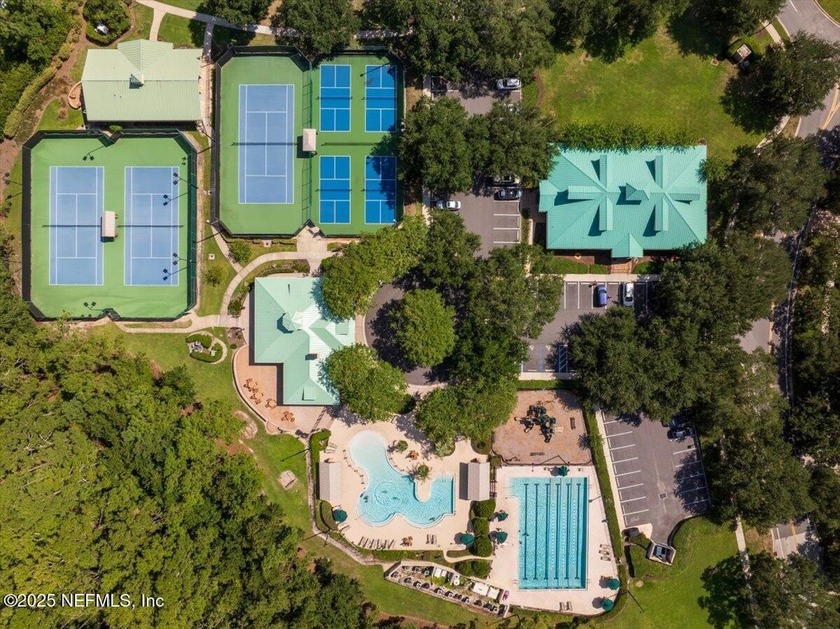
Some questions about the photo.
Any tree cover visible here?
Yes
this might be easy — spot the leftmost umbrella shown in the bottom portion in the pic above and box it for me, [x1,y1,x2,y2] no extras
[332,507,348,522]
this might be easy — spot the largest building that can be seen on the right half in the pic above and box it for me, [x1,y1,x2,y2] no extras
[538,145,707,258]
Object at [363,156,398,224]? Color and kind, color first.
blue sports court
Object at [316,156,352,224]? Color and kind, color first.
blue sports court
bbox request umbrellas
[332,507,348,522]
[555,463,569,477]
[605,576,620,590]
[599,595,614,611]
[495,508,509,521]
[493,529,508,545]
[459,531,474,546]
